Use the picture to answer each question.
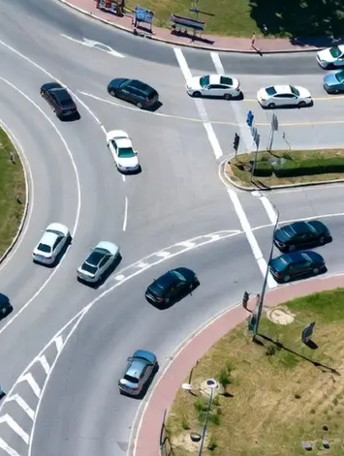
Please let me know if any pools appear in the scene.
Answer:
No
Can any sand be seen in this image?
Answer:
No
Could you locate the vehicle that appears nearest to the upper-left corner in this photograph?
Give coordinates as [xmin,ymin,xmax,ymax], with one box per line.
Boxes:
[37,85,82,121]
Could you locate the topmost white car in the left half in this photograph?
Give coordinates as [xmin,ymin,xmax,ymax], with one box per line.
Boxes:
[107,132,136,171]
